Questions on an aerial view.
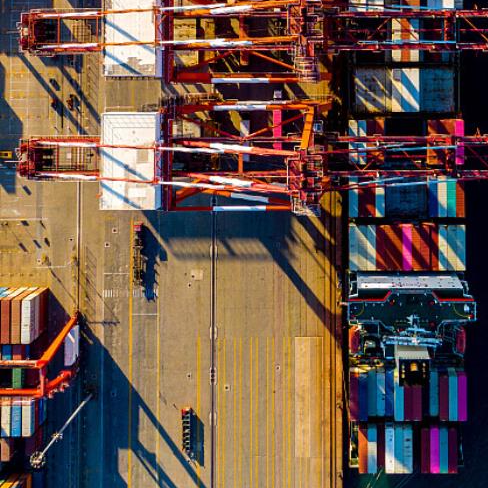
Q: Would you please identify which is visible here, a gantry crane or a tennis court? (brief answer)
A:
gantry crane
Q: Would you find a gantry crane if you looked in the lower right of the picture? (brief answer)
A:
No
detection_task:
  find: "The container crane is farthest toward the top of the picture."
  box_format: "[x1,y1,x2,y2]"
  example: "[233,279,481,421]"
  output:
[5,0,488,92]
